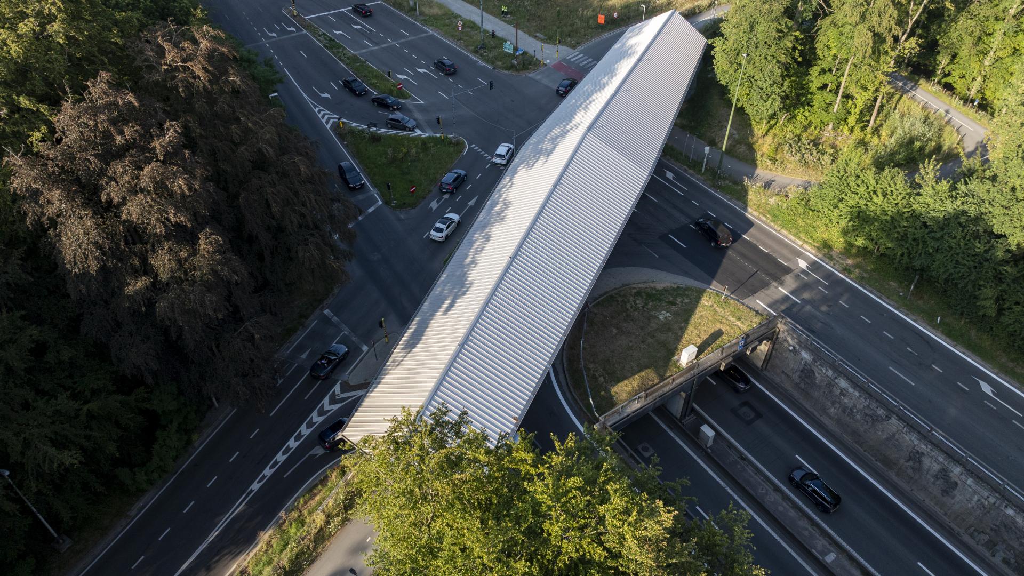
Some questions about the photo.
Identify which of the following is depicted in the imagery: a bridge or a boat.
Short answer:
bridge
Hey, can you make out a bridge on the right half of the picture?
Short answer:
Yes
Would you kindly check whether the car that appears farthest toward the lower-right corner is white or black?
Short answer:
black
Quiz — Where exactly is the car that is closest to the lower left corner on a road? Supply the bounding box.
[303,408,353,464]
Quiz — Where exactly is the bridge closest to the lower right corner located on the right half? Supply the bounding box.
[592,312,793,432]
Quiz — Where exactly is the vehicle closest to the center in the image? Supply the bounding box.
[426,215,463,245]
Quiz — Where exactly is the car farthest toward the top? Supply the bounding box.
[351,5,373,18]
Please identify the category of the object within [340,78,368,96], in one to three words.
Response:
car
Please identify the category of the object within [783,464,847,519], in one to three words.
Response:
car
